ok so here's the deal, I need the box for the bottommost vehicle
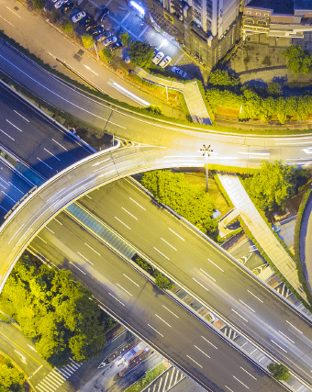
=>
[117,337,148,362]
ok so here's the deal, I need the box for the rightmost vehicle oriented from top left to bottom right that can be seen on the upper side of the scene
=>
[171,65,186,78]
